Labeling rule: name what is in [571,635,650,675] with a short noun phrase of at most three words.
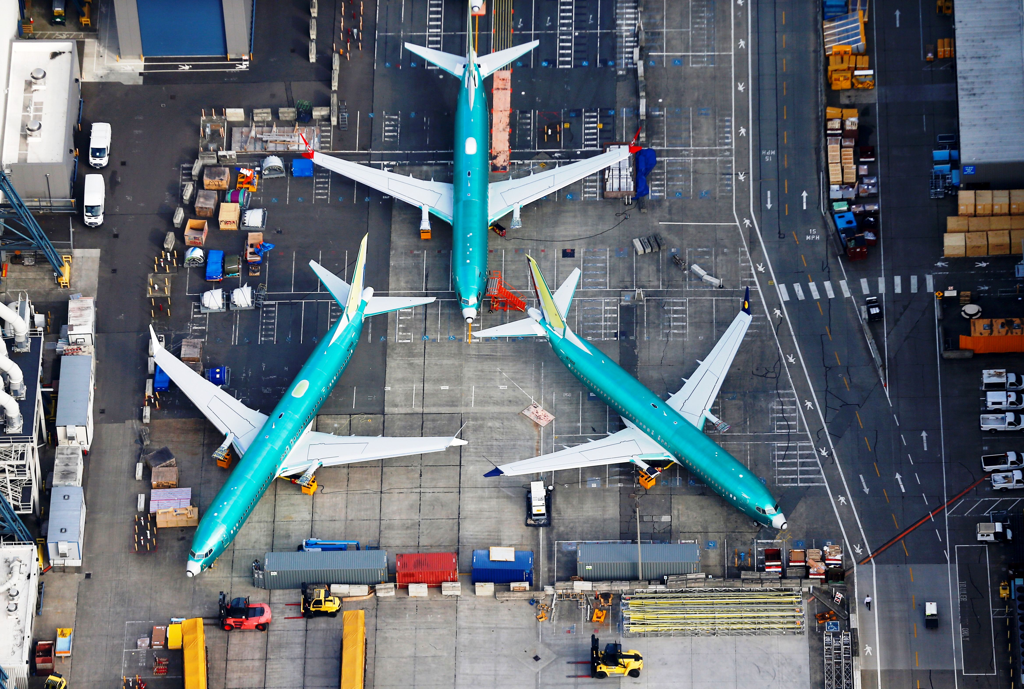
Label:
work vehicle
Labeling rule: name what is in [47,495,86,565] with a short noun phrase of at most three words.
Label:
building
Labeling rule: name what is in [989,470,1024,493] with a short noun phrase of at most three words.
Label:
truck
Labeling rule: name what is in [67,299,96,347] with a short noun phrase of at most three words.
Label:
building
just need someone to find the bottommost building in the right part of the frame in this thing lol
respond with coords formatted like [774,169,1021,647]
[960,318,1024,354]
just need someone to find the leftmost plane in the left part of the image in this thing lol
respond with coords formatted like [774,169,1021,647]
[145,235,468,576]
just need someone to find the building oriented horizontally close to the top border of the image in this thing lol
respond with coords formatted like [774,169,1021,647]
[114,0,256,59]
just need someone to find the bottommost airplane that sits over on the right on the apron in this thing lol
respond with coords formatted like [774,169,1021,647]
[474,253,787,529]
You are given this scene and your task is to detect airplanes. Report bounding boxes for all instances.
[474,253,787,529]
[145,235,468,576]
[466,0,487,12]
[297,0,644,326]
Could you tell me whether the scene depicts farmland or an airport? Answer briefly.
airport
